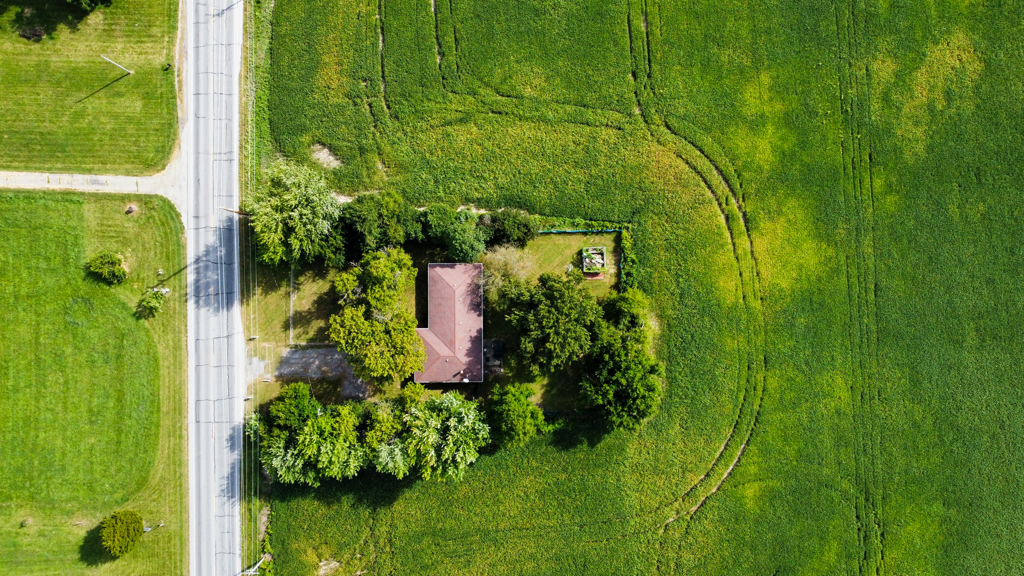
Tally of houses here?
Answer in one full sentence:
Altogether the scene contains 1 house.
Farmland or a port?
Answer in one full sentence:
This image shows farmland.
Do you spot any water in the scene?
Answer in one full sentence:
No, the scene doesn't show any water.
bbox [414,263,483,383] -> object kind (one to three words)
house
